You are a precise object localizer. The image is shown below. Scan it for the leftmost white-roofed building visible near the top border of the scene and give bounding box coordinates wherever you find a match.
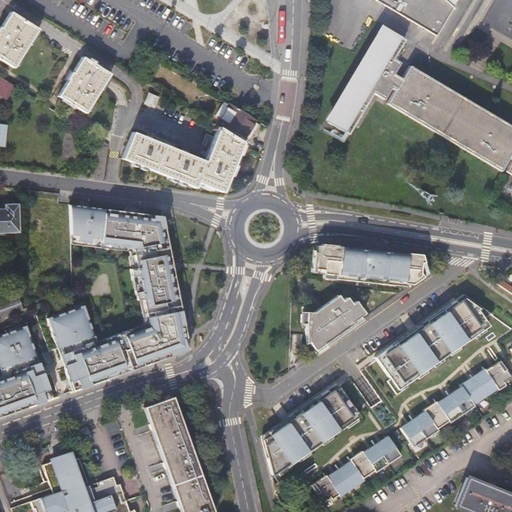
[0,11,41,72]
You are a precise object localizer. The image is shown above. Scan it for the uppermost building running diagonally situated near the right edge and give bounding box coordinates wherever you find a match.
[386,67,512,176]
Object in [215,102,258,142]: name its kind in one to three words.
house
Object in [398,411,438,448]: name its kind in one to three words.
house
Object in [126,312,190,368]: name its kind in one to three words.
building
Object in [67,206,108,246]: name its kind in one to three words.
building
